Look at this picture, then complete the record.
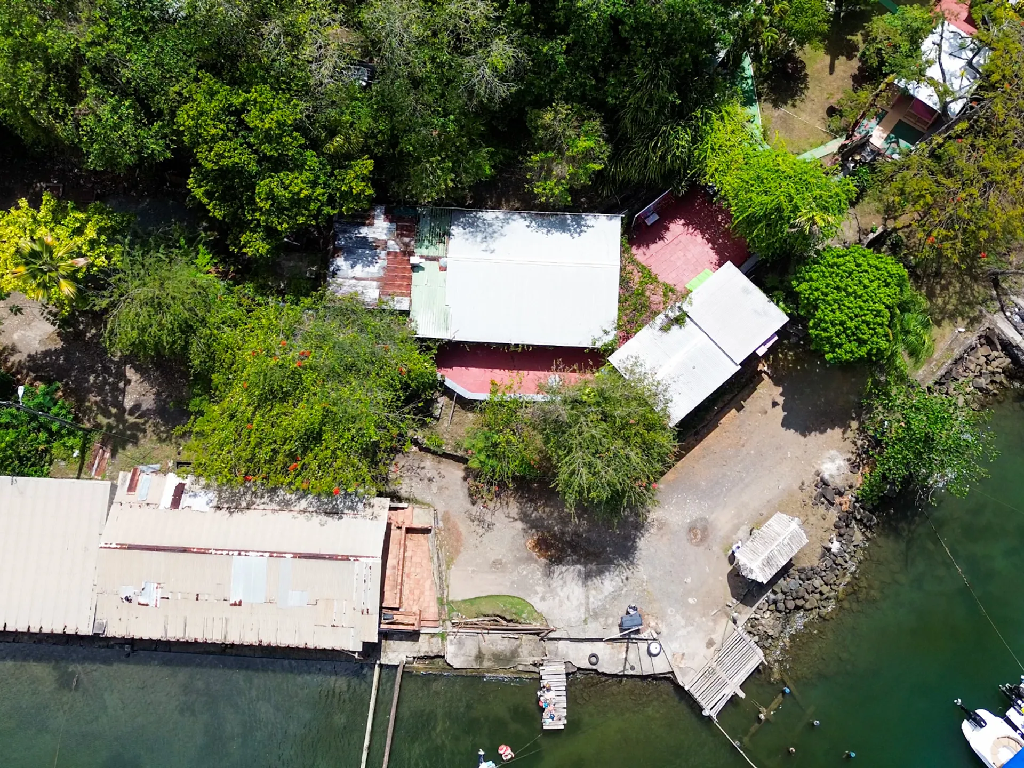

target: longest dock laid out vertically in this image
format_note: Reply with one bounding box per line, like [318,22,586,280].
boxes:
[540,658,567,729]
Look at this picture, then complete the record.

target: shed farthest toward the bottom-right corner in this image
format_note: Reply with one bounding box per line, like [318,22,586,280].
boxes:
[728,512,807,583]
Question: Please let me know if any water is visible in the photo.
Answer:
Yes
